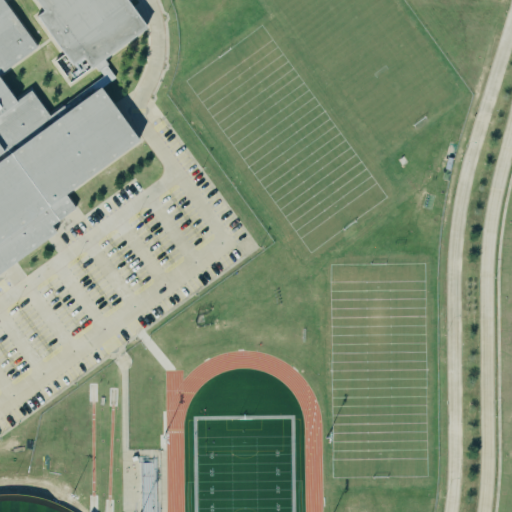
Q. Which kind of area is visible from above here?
sports ground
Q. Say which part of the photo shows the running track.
bottom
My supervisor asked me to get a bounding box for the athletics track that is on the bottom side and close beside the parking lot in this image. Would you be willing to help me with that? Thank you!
[166,350,324,512]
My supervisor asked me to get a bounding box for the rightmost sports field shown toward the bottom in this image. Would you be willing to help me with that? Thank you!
[331,264,428,478]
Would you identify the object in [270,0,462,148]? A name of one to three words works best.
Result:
soccer field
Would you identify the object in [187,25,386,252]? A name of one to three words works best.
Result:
sports field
